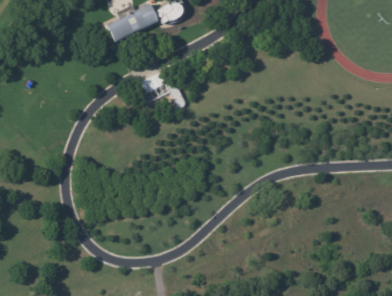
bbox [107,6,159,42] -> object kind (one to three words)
house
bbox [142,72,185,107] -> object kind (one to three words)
house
